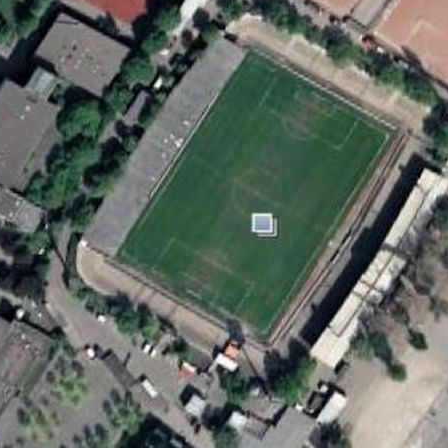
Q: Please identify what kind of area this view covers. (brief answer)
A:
sports ground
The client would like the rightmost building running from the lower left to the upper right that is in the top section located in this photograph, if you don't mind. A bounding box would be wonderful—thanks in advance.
[174,0,209,35]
